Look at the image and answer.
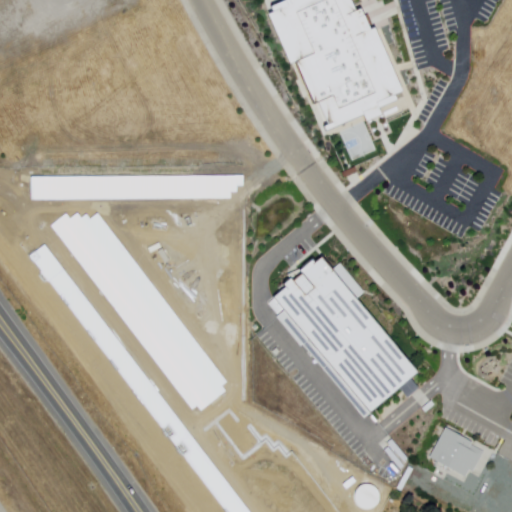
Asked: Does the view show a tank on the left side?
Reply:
No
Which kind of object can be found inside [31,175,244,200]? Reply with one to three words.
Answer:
shed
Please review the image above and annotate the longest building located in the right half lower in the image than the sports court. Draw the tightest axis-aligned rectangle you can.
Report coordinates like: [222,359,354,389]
[268,256,418,418]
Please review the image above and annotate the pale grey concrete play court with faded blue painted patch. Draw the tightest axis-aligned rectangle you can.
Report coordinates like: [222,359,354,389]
[340,121,376,161]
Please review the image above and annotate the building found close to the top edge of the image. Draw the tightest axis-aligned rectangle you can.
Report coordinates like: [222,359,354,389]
[268,0,402,130]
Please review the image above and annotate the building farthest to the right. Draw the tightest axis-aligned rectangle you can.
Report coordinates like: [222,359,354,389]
[430,426,484,476]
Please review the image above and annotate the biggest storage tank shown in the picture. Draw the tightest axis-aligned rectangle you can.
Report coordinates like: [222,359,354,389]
[352,481,382,511]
